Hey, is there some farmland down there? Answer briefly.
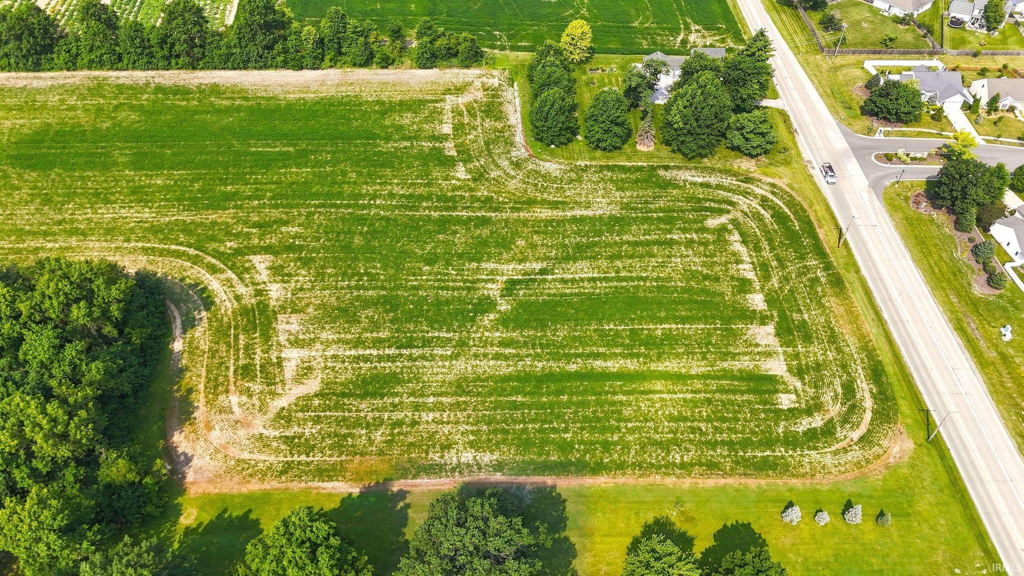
Yes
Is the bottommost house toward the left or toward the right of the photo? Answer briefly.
right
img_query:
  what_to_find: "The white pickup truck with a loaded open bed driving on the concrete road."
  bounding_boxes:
[821,165,837,183]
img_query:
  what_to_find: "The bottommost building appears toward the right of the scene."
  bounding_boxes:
[988,201,1024,272]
